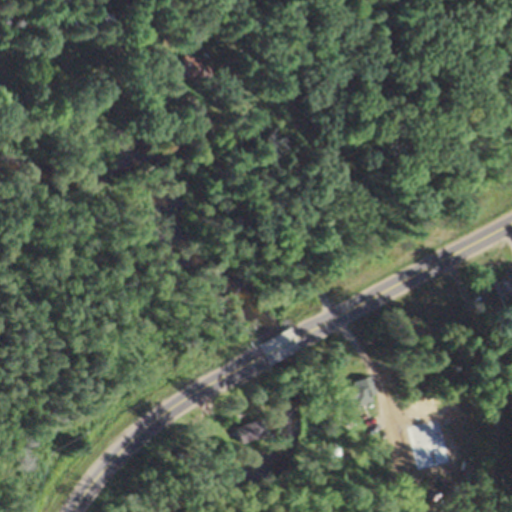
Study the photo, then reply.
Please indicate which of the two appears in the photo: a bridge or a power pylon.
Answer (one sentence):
Looking from above, you can make out a bridge.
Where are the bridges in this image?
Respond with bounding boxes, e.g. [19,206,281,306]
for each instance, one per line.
[260,327,302,364]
